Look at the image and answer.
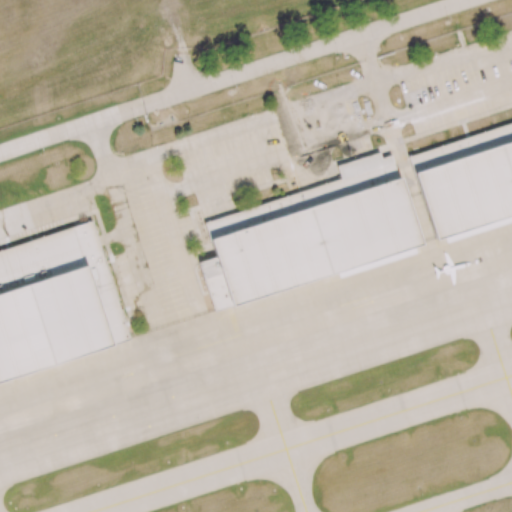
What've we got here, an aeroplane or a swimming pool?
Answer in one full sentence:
The image shows an aeroplane.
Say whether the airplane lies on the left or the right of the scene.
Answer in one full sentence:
It is on the right.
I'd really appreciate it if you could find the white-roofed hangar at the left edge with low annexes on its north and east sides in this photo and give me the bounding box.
[0,220,130,382]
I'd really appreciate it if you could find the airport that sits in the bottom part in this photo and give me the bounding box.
[0,223,512,512]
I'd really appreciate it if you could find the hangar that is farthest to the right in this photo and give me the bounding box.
[410,122,512,243]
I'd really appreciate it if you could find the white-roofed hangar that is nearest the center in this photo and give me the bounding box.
[200,150,425,310]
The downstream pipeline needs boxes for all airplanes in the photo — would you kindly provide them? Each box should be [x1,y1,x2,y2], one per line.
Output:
[434,252,470,284]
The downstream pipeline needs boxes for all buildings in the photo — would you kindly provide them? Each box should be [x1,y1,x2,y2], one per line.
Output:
[0,220,130,382]
[410,122,512,243]
[200,150,425,310]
